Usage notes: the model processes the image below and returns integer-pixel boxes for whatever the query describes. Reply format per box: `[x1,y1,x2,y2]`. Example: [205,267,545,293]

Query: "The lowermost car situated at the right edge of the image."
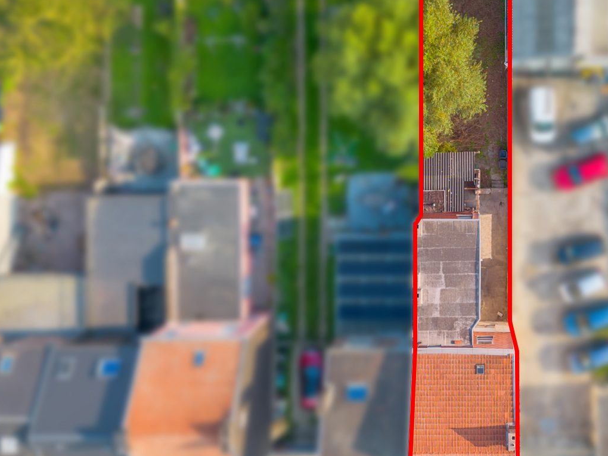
[562,334,608,374]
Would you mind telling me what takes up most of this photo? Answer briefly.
buildings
